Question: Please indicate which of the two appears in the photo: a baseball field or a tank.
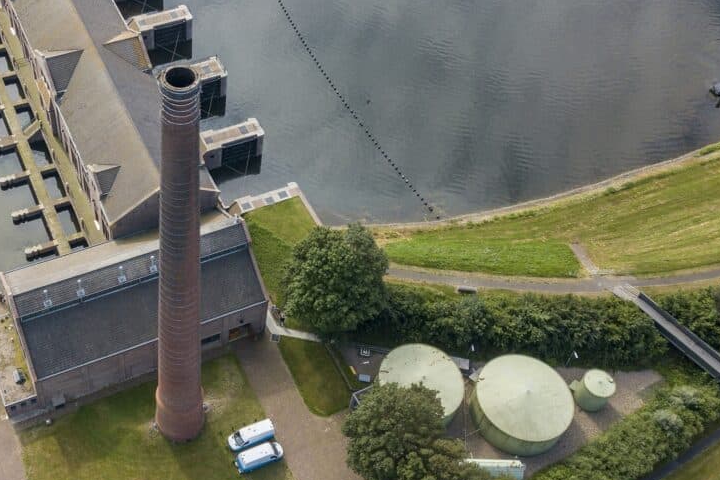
tank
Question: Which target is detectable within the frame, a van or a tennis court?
van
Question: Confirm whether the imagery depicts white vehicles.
Yes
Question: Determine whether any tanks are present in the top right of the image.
No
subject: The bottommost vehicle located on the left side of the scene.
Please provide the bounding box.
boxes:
[237,439,284,470]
